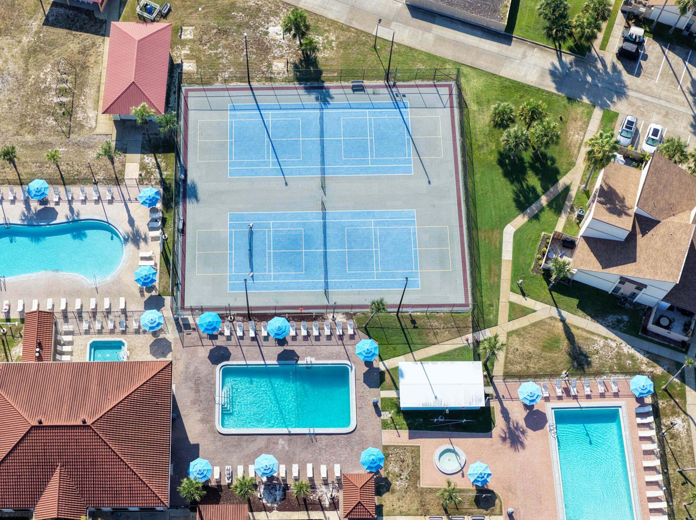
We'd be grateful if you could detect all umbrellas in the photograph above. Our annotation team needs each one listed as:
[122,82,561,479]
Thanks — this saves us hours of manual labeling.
[141,312,164,332]
[630,375,653,397]
[137,188,158,207]
[360,448,384,470]
[189,460,213,481]
[518,384,541,406]
[197,313,220,334]
[267,317,288,338]
[466,464,490,488]
[256,456,278,479]
[356,344,378,366]
[28,180,50,200]
[135,265,158,285]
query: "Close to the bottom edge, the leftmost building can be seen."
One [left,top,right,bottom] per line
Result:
[0,359,173,520]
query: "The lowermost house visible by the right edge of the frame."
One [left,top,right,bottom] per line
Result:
[541,151,696,342]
